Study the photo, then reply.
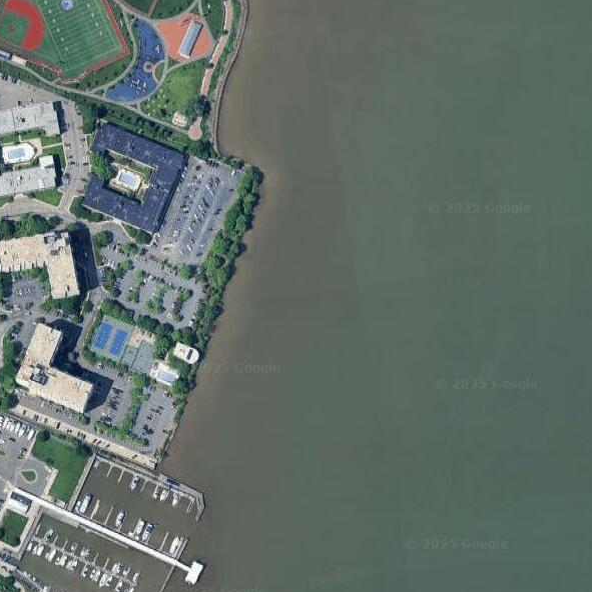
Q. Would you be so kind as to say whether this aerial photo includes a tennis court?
Yes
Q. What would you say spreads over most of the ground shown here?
water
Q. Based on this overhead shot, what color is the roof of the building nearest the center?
white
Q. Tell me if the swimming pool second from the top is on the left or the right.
left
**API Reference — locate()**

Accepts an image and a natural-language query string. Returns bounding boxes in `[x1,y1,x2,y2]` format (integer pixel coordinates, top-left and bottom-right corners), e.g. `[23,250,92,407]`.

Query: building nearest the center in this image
[174,343,199,364]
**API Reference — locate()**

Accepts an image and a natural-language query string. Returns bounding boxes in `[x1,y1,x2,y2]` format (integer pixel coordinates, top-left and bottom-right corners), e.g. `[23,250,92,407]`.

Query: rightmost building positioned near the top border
[180,21,203,57]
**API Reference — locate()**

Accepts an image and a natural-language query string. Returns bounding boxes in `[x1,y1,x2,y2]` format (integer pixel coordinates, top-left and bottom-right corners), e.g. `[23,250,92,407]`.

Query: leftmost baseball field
[0,0,45,53]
